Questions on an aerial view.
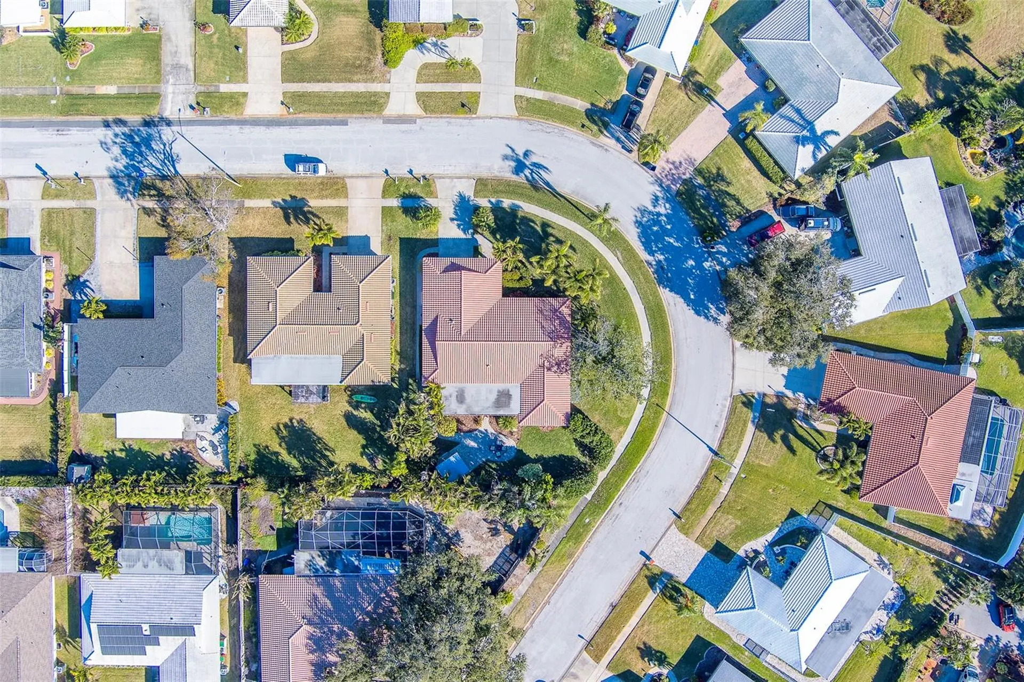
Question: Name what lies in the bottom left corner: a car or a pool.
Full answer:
The feature located in the bottom left corner is a pool.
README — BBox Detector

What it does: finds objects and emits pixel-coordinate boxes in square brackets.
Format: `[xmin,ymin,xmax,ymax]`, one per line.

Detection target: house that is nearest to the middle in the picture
[422,257,571,427]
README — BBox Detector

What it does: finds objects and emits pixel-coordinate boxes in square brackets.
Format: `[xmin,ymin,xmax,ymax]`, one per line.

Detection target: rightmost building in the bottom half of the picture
[817,350,993,520]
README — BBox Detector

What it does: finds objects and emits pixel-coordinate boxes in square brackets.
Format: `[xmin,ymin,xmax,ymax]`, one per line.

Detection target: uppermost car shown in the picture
[634,64,657,100]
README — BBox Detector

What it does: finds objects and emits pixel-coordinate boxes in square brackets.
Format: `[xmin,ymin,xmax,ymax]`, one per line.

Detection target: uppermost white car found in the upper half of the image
[295,160,329,177]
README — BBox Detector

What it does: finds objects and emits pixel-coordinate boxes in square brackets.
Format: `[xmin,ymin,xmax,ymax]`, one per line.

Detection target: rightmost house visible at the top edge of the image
[740,0,901,179]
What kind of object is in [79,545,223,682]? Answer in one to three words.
house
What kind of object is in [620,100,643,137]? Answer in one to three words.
truck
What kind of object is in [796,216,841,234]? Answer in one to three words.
vehicle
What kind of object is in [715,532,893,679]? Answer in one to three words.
house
